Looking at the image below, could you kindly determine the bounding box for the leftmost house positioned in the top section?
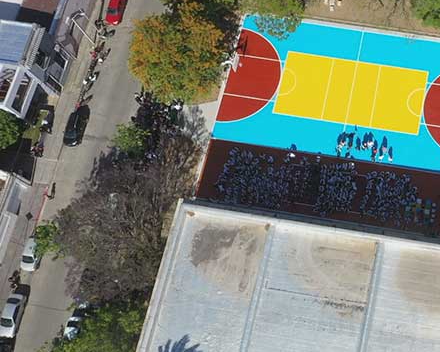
[0,20,38,84]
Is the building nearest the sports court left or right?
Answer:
right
